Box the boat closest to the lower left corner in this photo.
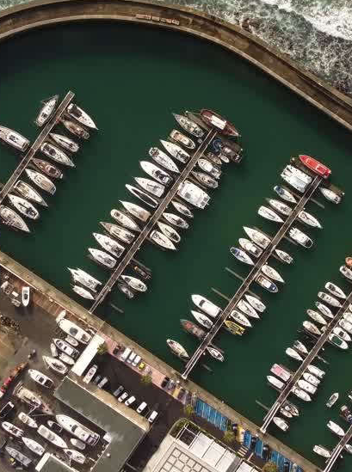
[6,448,33,468]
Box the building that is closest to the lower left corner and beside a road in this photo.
[37,374,150,472]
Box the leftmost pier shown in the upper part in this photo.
[0,90,75,205]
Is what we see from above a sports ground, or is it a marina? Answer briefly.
marina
